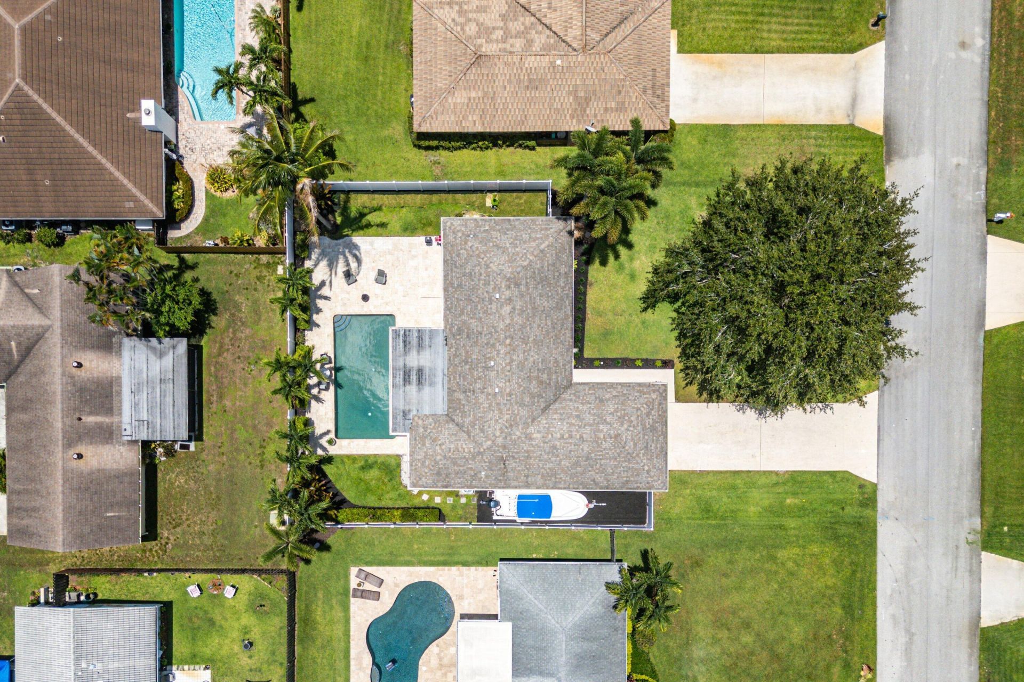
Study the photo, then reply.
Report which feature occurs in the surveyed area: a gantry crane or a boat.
boat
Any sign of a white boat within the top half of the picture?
No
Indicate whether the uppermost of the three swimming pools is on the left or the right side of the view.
left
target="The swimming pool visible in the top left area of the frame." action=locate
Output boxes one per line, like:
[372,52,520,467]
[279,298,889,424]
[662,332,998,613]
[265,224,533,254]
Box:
[170,0,239,124]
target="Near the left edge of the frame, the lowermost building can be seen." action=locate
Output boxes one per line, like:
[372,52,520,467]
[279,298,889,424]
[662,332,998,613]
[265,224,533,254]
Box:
[14,604,161,682]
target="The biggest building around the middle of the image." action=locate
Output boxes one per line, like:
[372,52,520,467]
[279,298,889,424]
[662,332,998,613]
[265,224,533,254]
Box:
[388,216,669,491]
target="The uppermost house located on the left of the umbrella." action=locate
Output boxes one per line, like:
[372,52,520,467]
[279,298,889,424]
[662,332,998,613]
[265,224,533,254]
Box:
[0,0,180,220]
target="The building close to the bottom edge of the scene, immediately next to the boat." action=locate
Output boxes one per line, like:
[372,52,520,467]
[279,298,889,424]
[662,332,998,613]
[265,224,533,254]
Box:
[456,561,628,682]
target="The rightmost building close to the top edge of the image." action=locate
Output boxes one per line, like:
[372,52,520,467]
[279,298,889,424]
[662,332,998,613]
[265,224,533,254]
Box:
[411,0,672,138]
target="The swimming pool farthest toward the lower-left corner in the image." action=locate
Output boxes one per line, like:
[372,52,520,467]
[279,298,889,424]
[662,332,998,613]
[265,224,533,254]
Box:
[363,578,458,682]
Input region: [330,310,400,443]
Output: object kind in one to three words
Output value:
swimming pool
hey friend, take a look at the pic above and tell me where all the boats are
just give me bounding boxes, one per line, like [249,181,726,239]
[477,491,589,523]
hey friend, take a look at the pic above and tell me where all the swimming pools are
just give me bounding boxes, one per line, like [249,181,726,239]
[330,310,400,443]
[170,0,239,124]
[363,578,458,682]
